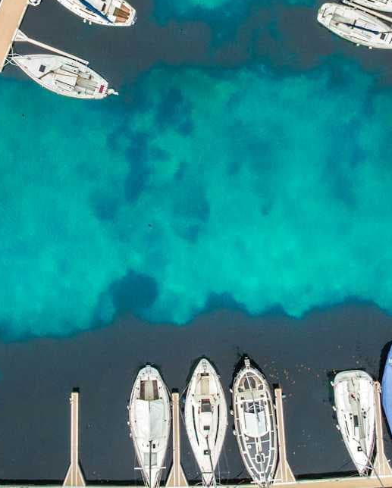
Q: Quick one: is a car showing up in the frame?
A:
No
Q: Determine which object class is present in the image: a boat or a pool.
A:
boat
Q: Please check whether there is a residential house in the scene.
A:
No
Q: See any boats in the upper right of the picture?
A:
Yes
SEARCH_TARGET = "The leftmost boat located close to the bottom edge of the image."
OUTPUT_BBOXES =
[127,360,171,488]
